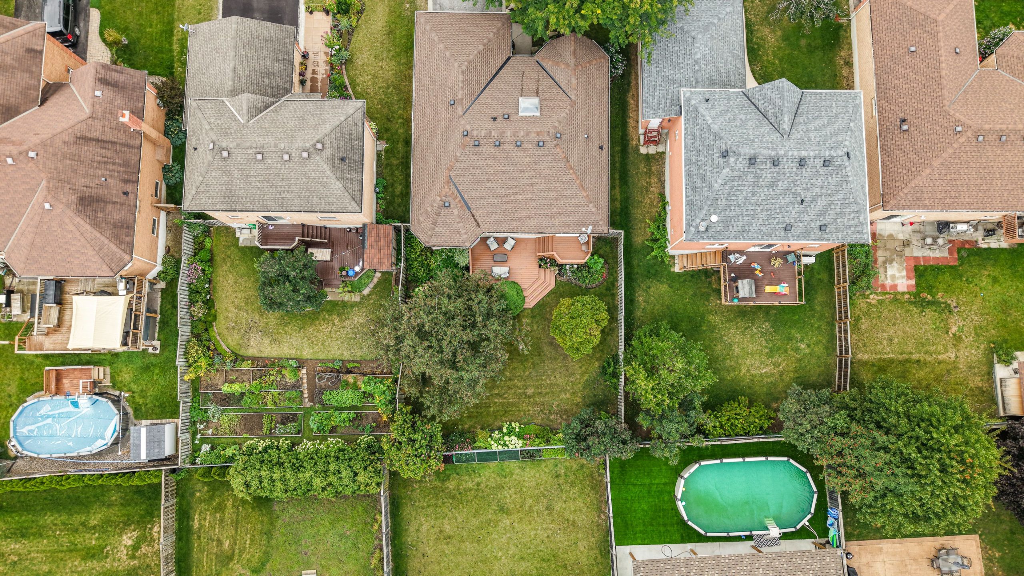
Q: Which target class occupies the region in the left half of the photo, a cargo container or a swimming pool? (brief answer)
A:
swimming pool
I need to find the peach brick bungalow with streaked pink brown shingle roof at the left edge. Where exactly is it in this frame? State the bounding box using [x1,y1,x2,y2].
[0,17,178,279]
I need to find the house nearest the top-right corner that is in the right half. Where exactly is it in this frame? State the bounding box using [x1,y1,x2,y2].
[848,0,1024,223]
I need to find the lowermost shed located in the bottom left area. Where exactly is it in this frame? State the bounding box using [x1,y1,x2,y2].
[131,423,187,460]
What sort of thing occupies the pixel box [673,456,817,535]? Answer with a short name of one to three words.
swimming pool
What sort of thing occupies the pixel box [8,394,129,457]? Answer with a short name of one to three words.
swimming pool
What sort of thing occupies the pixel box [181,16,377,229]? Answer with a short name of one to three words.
house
